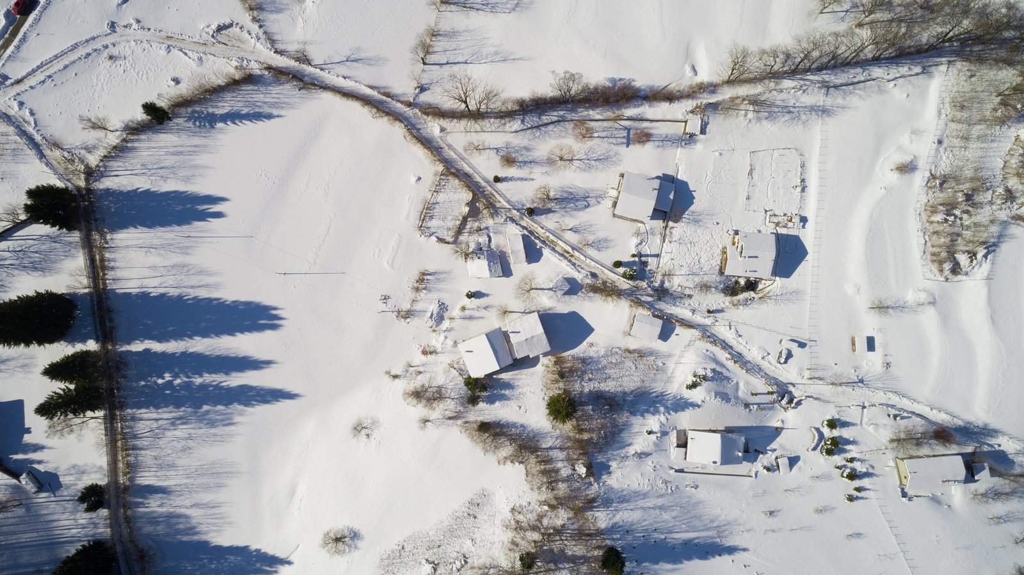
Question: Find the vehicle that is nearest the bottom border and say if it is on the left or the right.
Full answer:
The vehicle that is nearest the bottom border appears in the left half of the scene.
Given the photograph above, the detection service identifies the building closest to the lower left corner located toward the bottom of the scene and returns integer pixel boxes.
[458,327,513,378]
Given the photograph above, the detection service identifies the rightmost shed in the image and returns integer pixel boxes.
[966,461,992,479]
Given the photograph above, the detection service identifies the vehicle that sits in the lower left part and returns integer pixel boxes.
[15,471,40,495]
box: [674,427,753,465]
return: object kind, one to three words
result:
house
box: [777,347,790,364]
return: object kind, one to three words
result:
vehicle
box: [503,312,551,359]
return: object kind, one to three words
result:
house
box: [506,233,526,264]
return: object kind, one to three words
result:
building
